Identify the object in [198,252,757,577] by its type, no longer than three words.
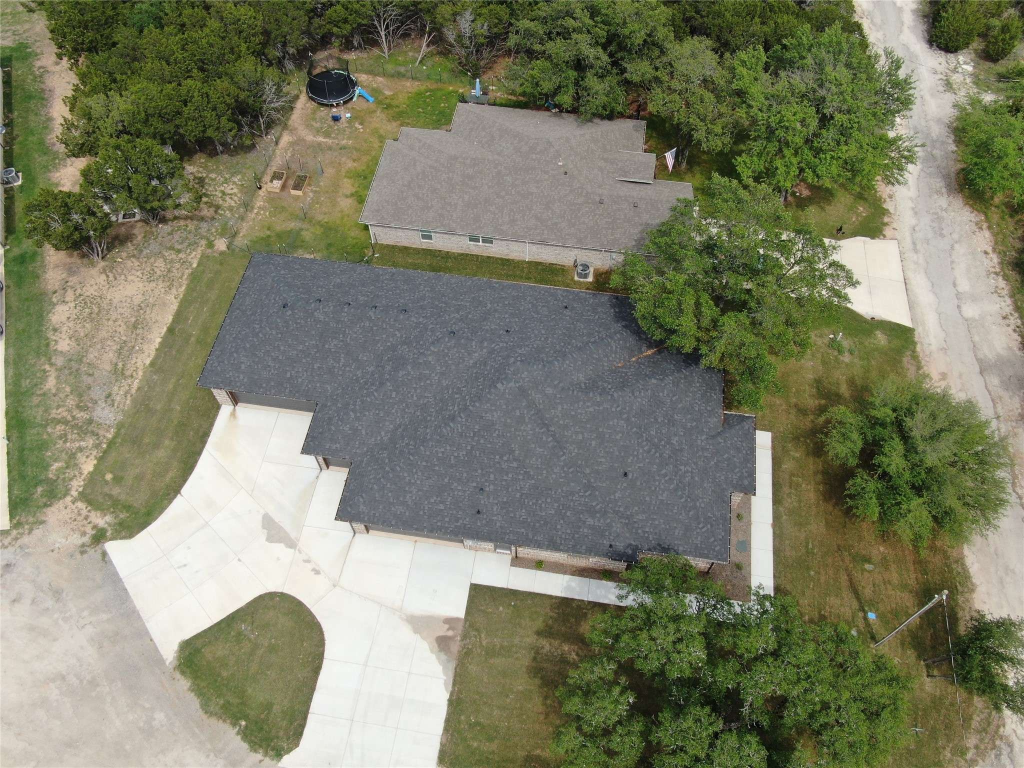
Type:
house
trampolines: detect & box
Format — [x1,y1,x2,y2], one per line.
[302,56,359,107]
